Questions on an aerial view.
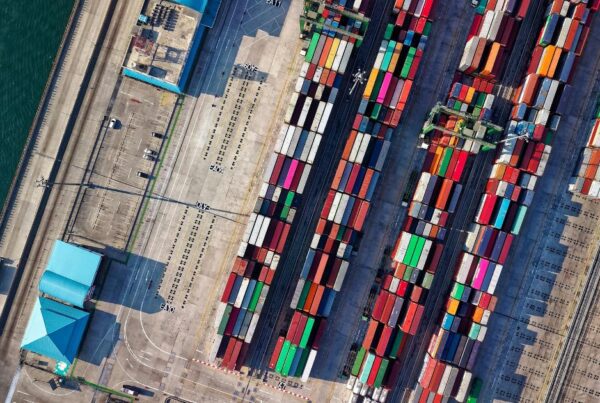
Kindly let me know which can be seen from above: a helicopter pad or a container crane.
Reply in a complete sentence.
Looking from above, you can make out a container crane.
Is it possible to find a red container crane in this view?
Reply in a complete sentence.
No, the frame has no red container crane in it.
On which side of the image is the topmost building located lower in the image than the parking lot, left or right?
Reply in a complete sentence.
It is on the left.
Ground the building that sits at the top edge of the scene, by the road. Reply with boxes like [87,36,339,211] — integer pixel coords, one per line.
[124,0,222,95]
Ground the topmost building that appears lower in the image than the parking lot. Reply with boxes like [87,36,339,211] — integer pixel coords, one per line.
[38,239,111,308]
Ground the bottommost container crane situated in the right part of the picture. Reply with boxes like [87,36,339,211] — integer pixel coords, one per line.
[412,103,504,159]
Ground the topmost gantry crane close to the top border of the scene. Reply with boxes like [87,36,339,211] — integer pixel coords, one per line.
[299,0,373,60]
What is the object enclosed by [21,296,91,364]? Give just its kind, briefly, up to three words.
building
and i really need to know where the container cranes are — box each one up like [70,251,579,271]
[412,103,504,159]
[299,0,373,60]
